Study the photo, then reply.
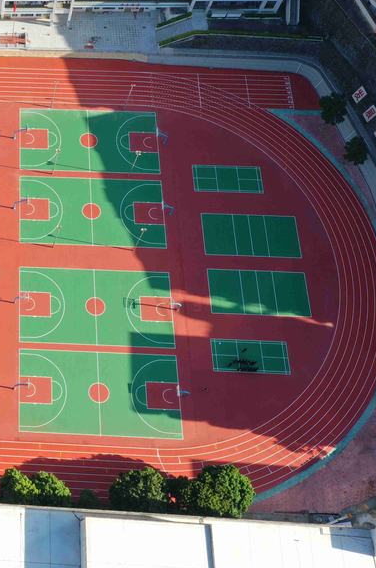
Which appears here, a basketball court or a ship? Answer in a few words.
basketball court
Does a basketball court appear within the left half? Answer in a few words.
Yes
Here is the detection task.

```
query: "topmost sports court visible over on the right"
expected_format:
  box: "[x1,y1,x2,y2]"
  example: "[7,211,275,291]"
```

[193,165,263,194]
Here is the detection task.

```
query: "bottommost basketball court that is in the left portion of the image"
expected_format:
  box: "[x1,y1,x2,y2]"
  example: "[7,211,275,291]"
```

[19,348,183,439]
